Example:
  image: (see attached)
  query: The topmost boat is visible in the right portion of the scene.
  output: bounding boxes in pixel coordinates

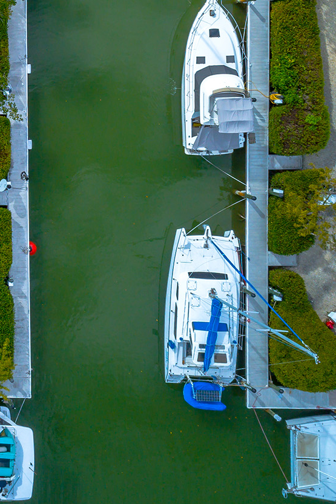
[176,0,254,155]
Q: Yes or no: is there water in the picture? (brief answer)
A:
Yes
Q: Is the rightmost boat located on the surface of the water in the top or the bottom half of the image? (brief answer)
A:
bottom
